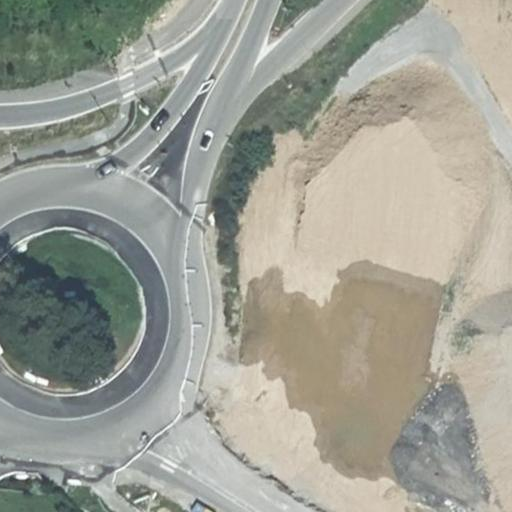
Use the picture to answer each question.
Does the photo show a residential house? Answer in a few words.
No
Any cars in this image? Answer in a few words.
Yes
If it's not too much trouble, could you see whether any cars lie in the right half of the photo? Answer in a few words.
No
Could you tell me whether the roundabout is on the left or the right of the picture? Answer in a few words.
left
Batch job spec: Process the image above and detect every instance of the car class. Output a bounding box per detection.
[150,108,170,130]
[200,129,213,151]
[96,160,118,177]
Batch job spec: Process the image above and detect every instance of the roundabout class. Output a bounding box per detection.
[0,152,192,481]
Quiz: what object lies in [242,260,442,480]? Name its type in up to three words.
pond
